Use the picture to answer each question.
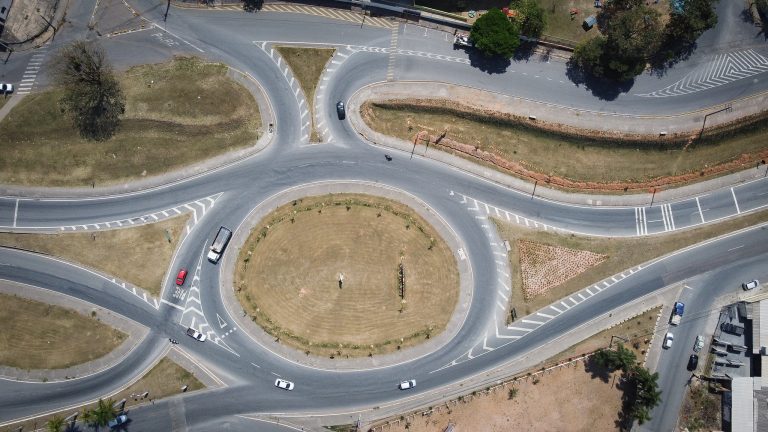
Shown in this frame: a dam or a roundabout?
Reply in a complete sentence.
Visible in the photo is a roundabout.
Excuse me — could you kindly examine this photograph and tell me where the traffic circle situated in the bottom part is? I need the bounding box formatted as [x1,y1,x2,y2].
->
[183,146,508,410]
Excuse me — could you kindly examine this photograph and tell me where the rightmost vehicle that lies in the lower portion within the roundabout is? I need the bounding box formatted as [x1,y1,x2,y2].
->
[398,379,417,392]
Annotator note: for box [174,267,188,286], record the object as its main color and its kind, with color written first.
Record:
red vehicle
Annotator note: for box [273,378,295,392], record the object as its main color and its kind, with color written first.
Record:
white vehicle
